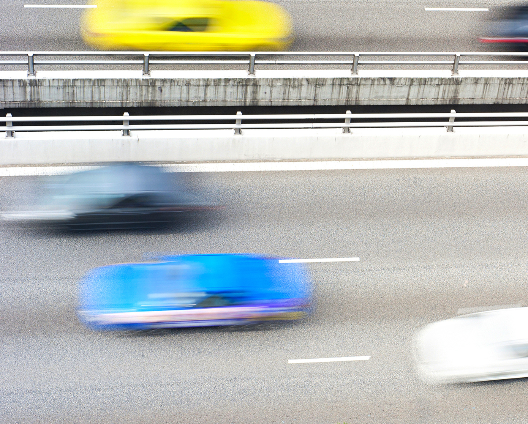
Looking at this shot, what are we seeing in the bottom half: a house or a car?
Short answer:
car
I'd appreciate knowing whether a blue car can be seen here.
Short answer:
Yes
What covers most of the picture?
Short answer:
paved ground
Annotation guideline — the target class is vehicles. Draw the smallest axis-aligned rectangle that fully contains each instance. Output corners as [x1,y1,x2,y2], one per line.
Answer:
[14,157,203,237]
[414,303,528,391]
[83,250,308,336]
[92,0,281,60]
[482,0,528,60]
